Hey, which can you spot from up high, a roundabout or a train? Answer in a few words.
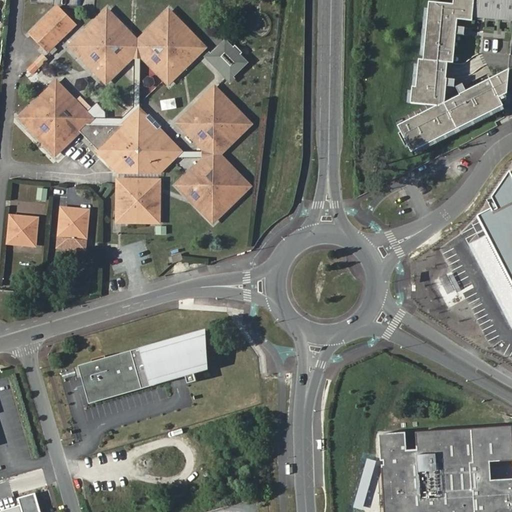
roundabout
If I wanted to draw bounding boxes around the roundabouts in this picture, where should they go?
[243,200,404,368]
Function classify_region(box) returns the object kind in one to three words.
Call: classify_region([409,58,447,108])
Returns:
building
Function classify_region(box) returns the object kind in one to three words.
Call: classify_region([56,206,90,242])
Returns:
house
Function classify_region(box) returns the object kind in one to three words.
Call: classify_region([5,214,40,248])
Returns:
house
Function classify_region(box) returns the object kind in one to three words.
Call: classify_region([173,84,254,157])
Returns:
building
